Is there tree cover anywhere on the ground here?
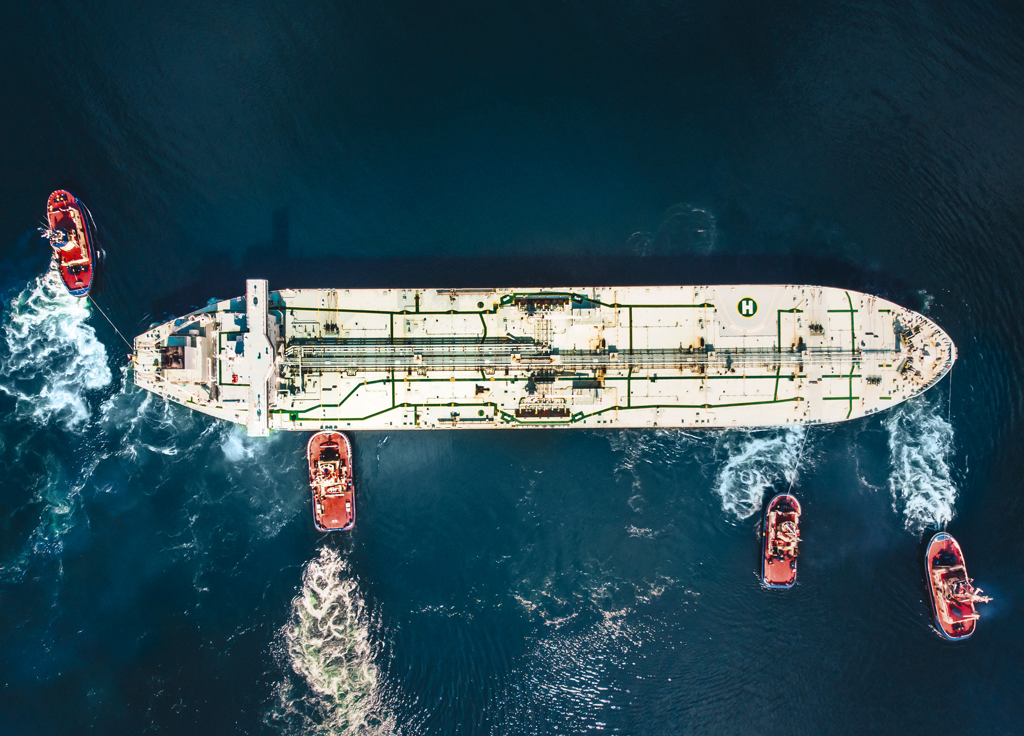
No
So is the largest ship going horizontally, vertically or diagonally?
horizontally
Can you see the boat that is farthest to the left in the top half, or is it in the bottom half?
top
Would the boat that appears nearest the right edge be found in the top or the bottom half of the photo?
bottom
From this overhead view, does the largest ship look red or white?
white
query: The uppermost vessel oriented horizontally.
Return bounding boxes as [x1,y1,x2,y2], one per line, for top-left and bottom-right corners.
[122,279,959,436]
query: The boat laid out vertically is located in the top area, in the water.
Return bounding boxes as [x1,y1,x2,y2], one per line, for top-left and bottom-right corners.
[31,187,96,299]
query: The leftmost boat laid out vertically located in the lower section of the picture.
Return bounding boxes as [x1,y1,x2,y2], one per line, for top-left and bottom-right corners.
[307,430,356,532]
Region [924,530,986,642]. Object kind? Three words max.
boat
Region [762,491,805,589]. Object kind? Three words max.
boat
